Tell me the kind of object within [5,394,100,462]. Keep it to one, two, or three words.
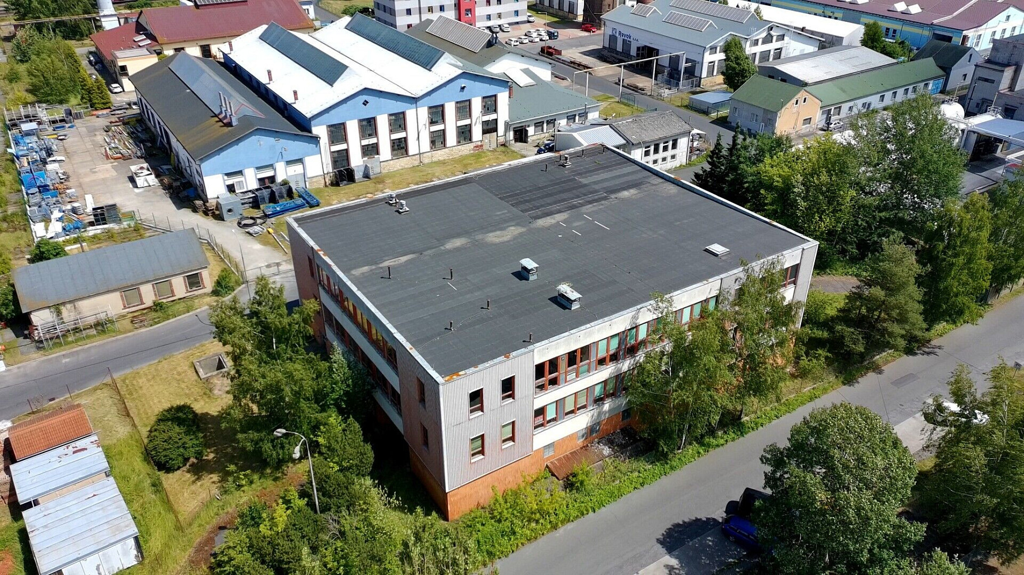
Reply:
shed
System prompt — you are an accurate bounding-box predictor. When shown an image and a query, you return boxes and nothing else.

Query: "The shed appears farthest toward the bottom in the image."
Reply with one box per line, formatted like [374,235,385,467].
[22,472,141,575]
